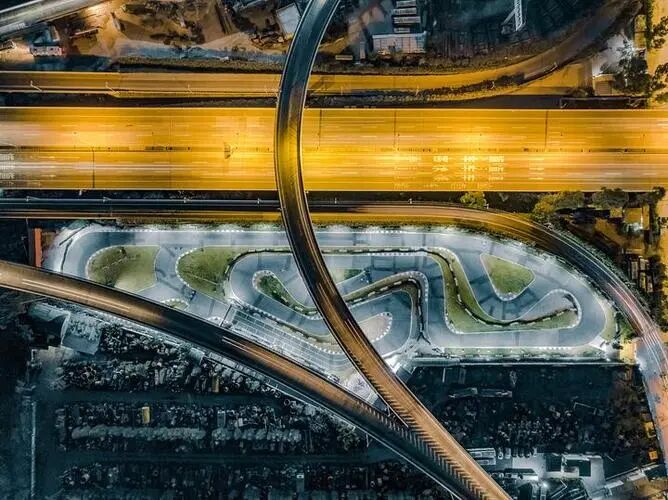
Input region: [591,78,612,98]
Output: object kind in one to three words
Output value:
shed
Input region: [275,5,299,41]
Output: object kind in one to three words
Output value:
building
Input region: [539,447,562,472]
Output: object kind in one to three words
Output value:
building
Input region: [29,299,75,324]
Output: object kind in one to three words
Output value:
shed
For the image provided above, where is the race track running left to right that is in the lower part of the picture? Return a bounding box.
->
[42,223,622,408]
